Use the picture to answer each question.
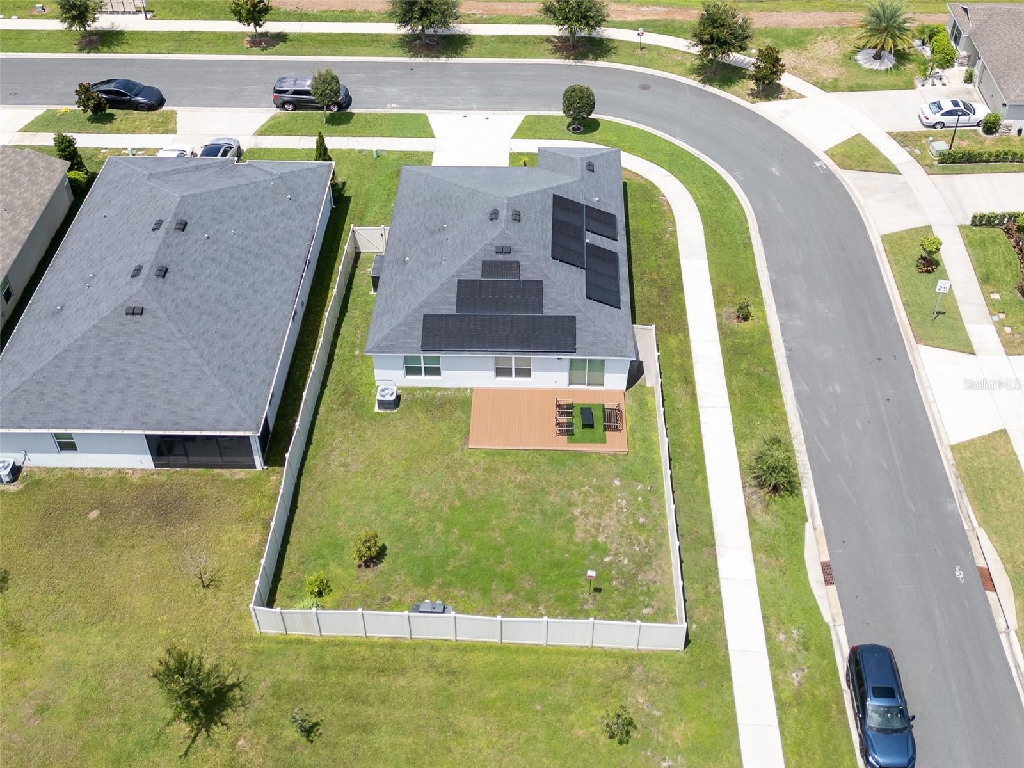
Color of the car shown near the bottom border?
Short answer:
blue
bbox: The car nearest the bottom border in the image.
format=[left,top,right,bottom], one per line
[843,645,922,768]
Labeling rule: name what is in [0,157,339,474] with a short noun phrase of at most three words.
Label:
house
